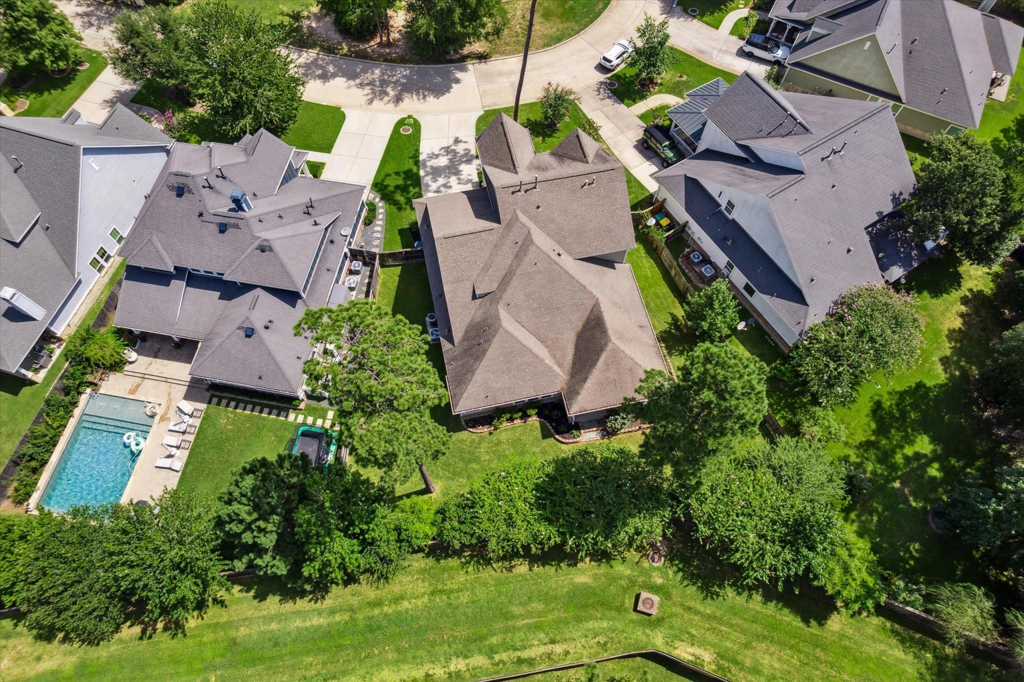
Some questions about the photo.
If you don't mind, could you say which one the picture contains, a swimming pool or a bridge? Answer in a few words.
swimming pool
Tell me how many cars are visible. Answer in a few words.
three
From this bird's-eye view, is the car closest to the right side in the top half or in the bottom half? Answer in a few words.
top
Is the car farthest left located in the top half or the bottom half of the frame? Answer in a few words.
top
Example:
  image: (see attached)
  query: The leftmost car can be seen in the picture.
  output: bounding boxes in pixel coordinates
[597,36,637,69]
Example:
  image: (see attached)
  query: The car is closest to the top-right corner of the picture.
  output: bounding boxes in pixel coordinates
[742,27,792,64]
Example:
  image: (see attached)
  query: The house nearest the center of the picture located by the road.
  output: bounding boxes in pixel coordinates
[412,112,668,428]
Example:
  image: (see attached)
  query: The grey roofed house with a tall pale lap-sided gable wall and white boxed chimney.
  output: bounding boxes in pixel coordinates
[0,103,176,381]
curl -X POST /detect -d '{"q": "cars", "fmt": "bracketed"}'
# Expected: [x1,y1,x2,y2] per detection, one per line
[742,27,792,64]
[641,119,687,167]
[597,36,637,69]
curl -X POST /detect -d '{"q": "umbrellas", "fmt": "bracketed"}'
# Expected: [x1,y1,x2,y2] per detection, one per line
[173,408,192,422]
[162,442,182,456]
